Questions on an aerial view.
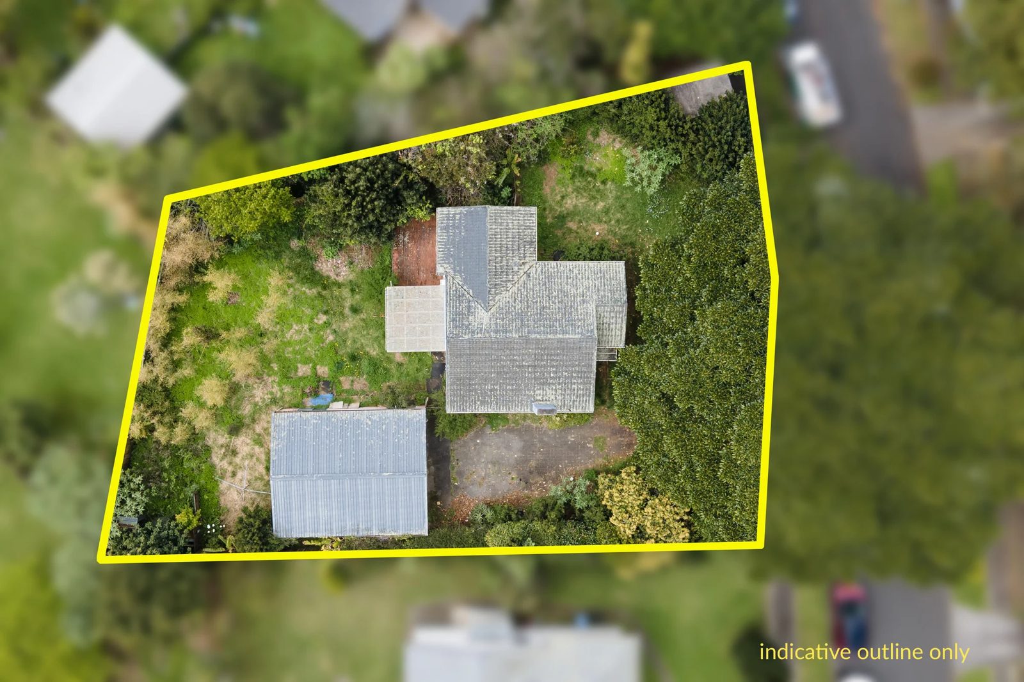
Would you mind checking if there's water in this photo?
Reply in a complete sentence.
No, water can't be seen anywhere here.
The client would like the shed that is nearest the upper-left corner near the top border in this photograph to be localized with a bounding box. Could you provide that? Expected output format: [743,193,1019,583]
[53,23,189,156]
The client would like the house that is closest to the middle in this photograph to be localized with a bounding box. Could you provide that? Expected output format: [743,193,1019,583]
[435,201,631,415]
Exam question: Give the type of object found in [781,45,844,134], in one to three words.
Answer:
van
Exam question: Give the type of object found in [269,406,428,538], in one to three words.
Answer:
building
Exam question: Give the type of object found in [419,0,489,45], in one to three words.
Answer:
house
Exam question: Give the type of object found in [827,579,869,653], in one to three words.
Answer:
car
